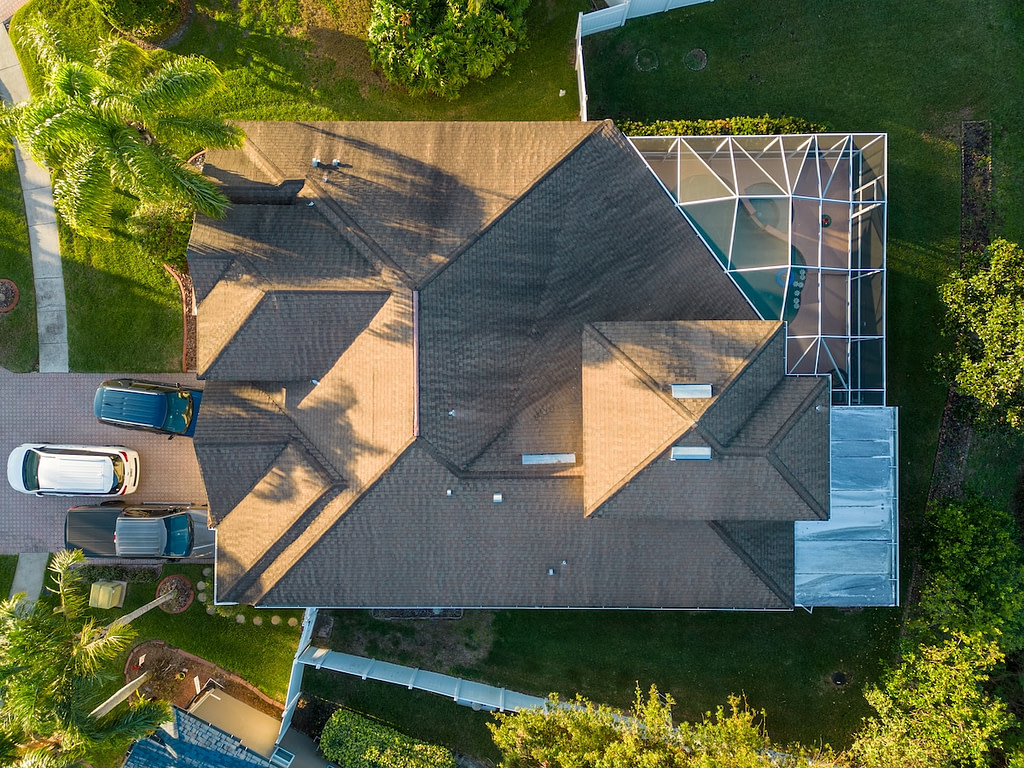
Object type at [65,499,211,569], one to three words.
truck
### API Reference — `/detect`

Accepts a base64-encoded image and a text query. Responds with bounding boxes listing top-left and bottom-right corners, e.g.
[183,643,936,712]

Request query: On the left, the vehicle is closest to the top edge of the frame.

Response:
[96,378,204,438]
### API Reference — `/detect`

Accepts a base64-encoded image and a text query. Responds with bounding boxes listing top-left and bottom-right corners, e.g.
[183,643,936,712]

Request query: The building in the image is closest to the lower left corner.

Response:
[135,672,346,768]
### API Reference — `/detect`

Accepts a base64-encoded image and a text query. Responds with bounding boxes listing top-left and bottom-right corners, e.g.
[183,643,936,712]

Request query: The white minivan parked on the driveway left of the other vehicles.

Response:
[7,441,138,499]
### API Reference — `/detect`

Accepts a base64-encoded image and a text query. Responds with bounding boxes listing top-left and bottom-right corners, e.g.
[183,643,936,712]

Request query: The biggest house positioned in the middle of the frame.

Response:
[180,120,834,610]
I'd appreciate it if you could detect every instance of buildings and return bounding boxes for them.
[180,120,834,610]
[135,672,346,768]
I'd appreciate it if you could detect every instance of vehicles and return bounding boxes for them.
[65,499,211,569]
[96,378,204,438]
[7,441,138,499]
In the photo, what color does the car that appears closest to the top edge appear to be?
blue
